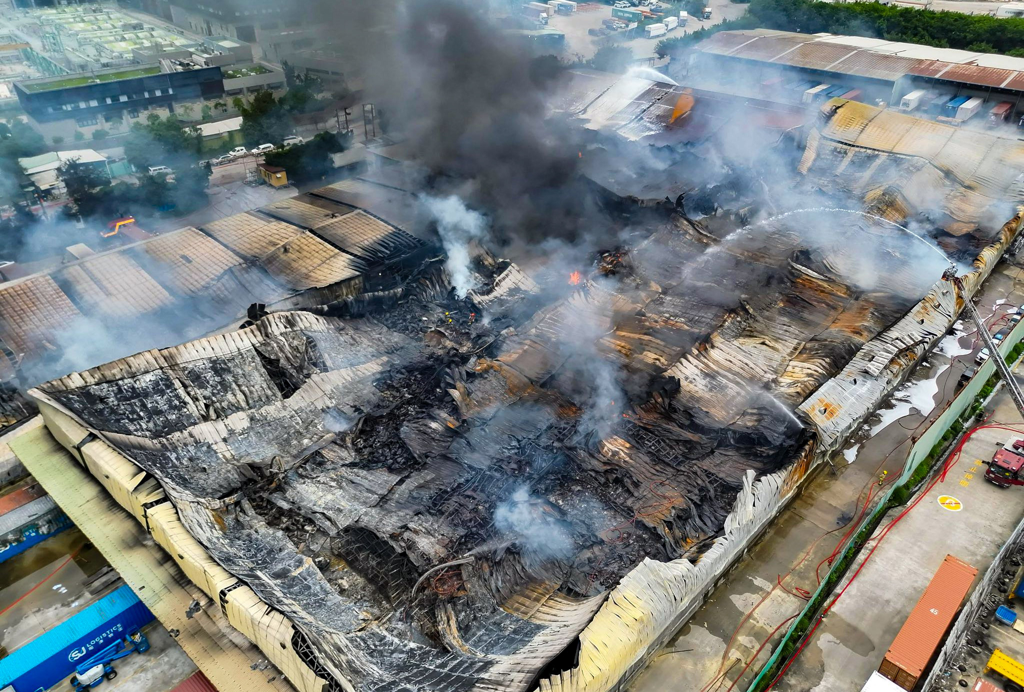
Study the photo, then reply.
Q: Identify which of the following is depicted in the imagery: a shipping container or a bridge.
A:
shipping container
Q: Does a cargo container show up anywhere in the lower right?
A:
Yes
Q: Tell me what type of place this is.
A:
industrial area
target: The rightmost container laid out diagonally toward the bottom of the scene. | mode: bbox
[876,555,979,692]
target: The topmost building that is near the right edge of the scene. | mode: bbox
[684,28,1024,125]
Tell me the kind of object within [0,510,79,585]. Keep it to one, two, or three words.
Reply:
shipping container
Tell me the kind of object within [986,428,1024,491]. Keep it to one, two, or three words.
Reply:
truck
